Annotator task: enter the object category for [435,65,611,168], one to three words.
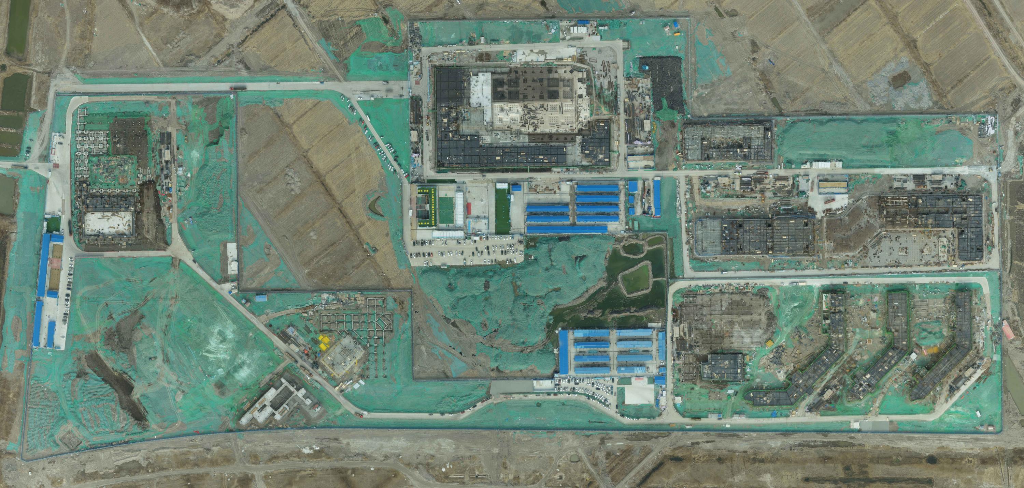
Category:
building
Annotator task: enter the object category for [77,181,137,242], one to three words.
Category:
building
